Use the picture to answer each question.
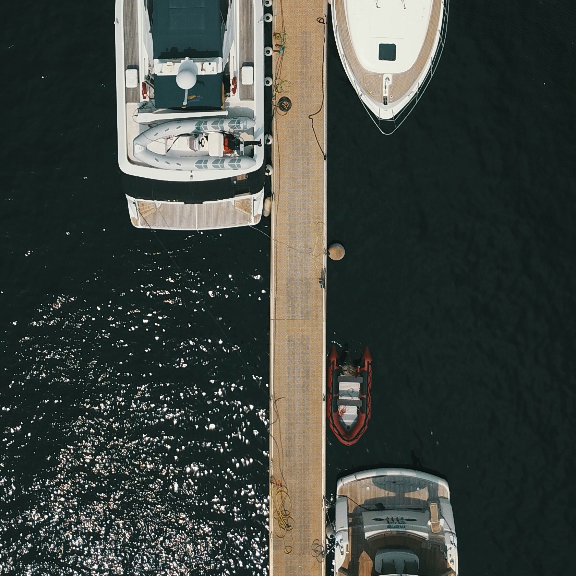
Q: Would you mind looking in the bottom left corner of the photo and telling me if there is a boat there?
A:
No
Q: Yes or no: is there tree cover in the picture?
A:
No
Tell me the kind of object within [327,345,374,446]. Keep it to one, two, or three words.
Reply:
boat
